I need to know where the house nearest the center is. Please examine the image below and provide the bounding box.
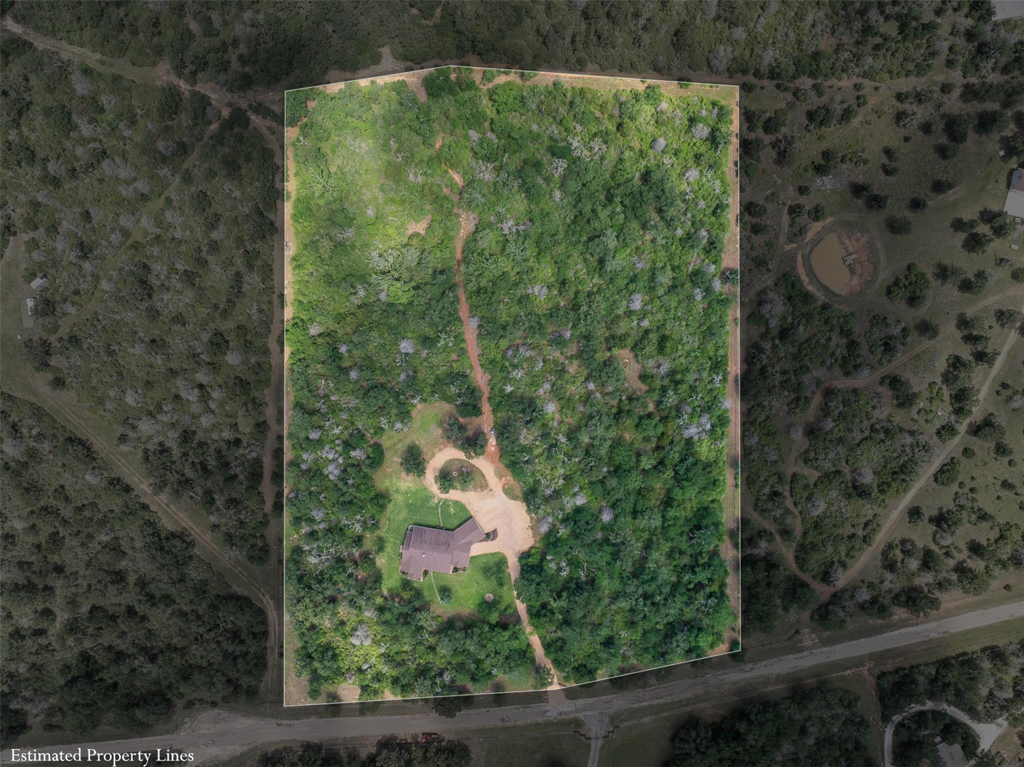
[400,517,486,581]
